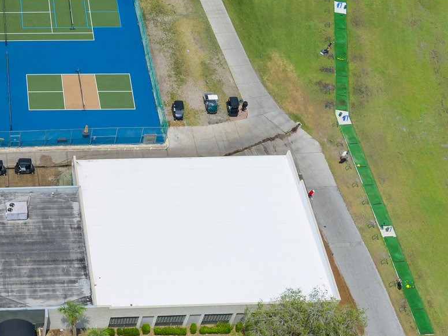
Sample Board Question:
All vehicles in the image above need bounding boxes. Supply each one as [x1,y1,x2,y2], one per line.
[203,94,218,114]
[225,96,240,117]
[0,159,7,177]
[171,98,185,120]
[14,157,35,174]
